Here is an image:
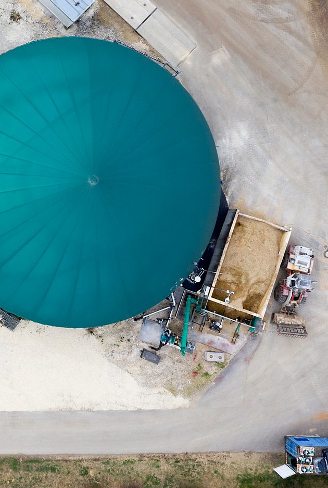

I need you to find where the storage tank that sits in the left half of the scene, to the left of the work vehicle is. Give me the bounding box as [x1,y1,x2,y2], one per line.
[0,36,224,329]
